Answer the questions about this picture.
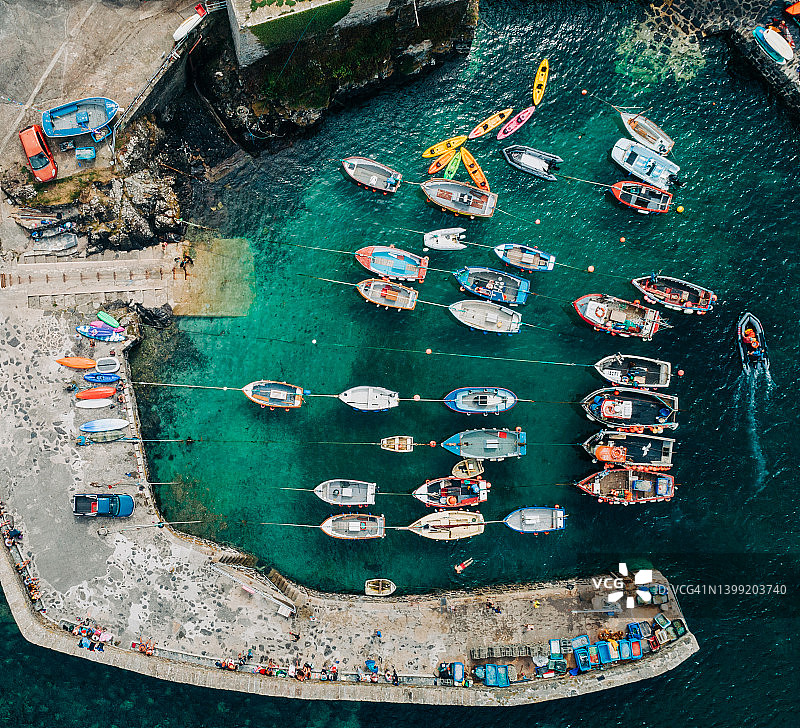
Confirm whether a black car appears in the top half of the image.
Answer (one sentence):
No, looking in the top half of the image, there is no black car.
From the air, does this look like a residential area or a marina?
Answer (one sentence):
What you see here is a marina.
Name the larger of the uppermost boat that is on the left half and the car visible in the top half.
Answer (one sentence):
The car covers a greater area than the boat.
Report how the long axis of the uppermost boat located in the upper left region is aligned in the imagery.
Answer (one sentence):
The uppermost boat located in the upper left region is oriented diagonally.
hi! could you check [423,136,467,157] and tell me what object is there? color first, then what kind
yellow boat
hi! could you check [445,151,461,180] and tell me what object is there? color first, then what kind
green boat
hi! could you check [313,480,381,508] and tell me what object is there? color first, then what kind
white boat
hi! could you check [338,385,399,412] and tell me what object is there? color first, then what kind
white boat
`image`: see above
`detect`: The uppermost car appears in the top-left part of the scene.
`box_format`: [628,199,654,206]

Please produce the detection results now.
[16,124,60,184]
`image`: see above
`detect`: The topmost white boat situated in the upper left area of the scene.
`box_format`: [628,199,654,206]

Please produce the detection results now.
[173,10,203,40]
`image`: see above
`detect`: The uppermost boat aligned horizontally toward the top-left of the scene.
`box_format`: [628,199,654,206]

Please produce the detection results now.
[44,99,122,141]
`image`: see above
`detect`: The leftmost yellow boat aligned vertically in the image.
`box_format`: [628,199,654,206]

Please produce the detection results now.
[534,59,548,105]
